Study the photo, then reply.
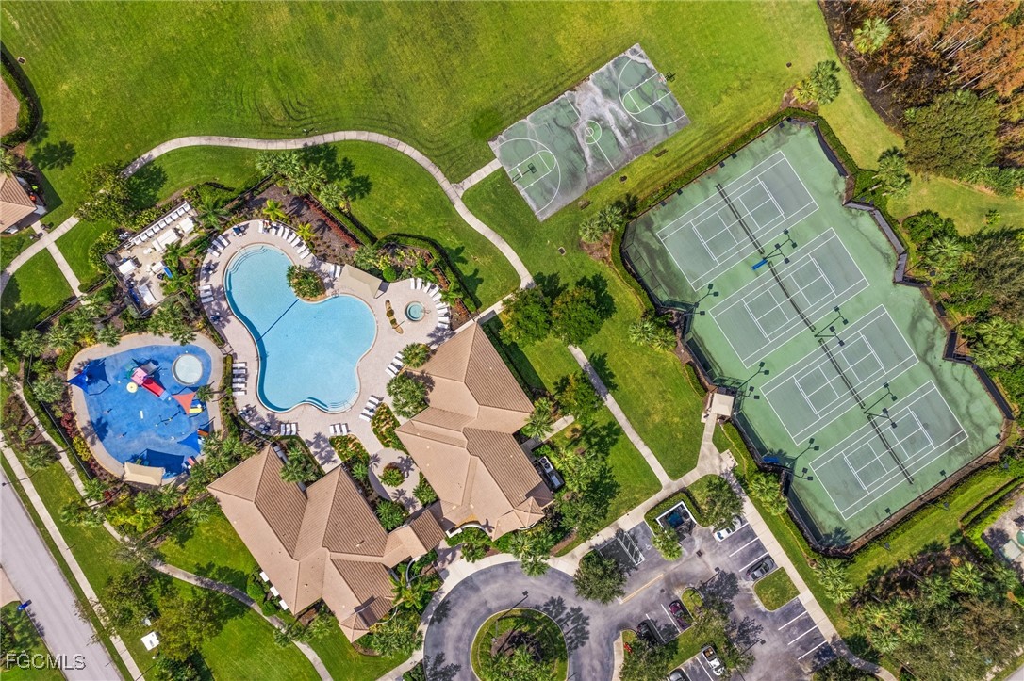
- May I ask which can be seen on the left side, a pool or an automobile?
pool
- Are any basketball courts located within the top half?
Yes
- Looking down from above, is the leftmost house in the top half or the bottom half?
top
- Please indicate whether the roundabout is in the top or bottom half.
bottom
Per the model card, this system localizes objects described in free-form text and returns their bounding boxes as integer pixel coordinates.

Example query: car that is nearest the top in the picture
[714,516,744,540]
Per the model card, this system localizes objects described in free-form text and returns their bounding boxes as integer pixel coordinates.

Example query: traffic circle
[470,607,569,681]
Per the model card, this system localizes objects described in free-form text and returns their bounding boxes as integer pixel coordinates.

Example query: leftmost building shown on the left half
[0,172,45,241]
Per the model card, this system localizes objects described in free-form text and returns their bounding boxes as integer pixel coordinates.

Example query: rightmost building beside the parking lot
[394,322,553,541]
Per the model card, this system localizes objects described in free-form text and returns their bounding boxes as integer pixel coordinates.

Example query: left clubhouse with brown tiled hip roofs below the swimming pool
[206,443,446,644]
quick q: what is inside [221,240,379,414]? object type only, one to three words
swimming pool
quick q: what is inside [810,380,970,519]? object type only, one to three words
tennis court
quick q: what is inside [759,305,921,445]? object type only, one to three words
tennis court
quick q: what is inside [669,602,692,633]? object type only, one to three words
car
